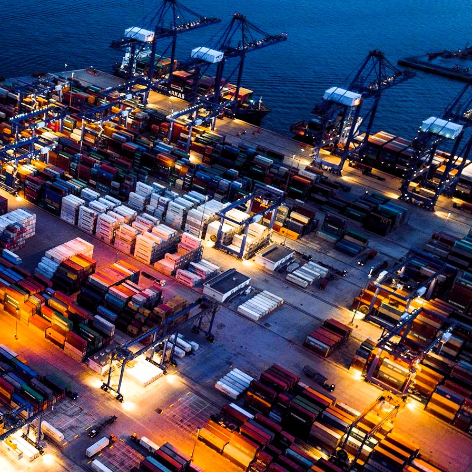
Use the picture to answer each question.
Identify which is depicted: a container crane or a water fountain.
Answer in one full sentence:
The one in the frame is a container crane.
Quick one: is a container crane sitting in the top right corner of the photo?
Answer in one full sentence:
Yes, a container crane shows up in the top right corner of the photo.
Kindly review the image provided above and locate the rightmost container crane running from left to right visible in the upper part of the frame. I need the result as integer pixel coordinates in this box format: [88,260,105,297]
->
[169,103,238,143]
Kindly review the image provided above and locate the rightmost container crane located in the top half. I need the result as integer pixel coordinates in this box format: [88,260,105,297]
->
[394,86,472,212]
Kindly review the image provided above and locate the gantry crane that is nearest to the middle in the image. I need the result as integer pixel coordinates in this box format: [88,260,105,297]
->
[212,192,296,260]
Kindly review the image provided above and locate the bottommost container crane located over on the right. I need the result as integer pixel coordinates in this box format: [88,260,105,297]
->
[328,387,415,472]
